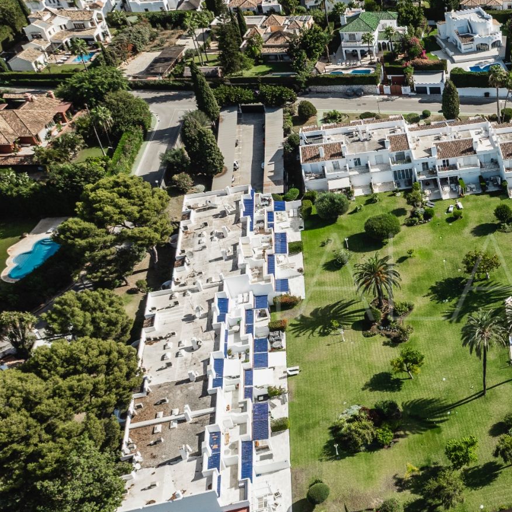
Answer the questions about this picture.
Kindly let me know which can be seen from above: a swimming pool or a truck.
swimming pool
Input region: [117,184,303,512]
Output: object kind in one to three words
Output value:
building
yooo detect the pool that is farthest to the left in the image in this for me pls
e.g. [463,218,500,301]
[2,229,66,280]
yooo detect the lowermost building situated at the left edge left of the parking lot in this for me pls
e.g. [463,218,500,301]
[0,88,92,174]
